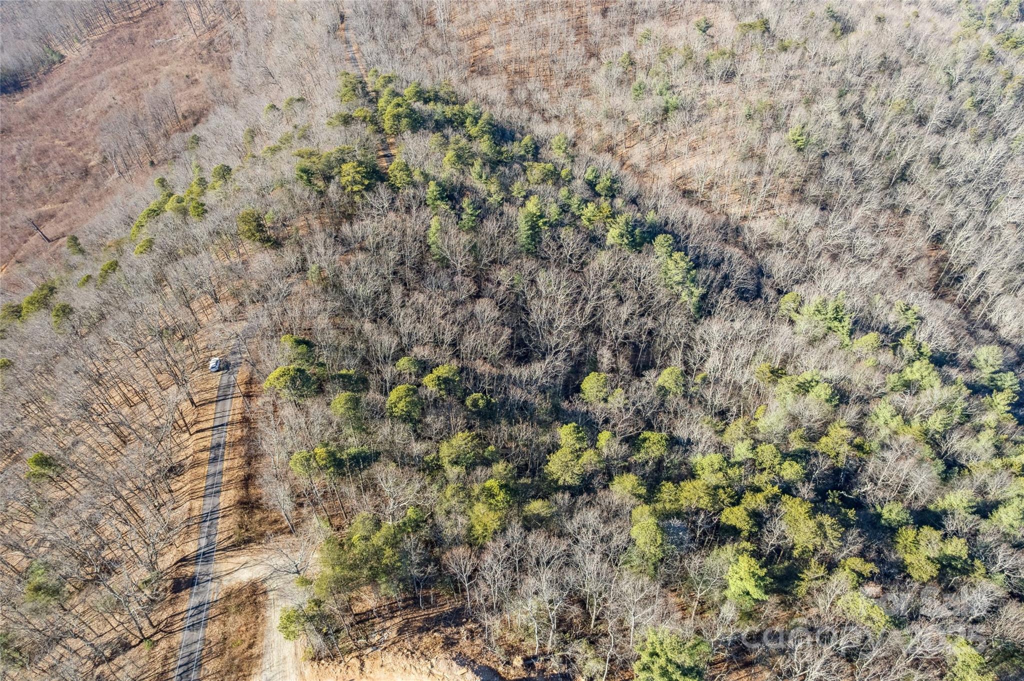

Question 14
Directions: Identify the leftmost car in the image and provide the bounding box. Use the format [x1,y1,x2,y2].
[208,360,220,378]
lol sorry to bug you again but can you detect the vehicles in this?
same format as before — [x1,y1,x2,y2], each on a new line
[208,360,220,378]
[385,150,392,160]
